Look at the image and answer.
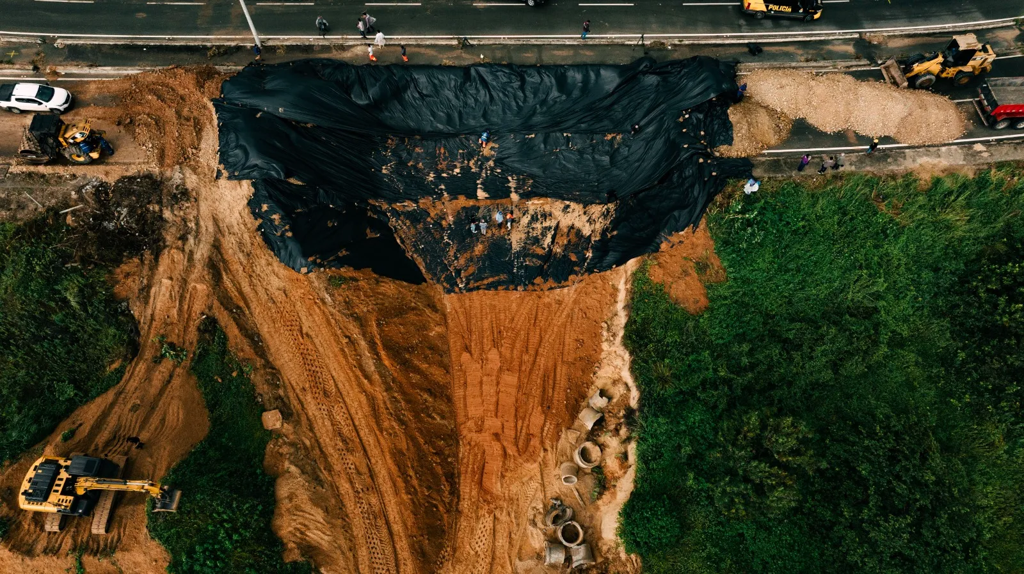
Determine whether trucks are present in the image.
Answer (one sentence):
Yes, this view includes a truck.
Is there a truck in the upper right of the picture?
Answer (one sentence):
Yes, looking in the upper right of the picture, one can make out a truck.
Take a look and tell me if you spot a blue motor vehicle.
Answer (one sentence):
No, there's no blue motor vehicle here.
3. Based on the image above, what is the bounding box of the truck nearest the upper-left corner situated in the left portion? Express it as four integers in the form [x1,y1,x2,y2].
[0,79,75,115]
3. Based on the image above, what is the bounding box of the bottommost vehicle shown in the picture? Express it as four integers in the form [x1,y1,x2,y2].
[17,449,186,545]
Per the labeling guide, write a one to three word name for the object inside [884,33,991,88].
work vehicle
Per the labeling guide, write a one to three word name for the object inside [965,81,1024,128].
truck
